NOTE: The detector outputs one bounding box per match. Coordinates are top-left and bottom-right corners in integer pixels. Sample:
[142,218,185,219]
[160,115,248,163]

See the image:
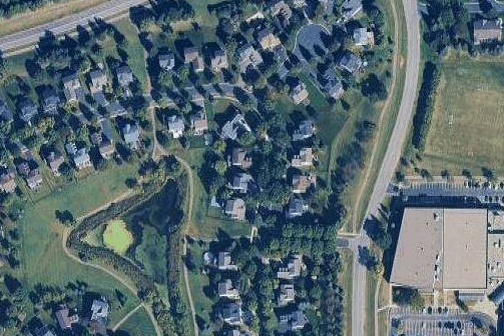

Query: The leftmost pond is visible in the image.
[101,179,183,321]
